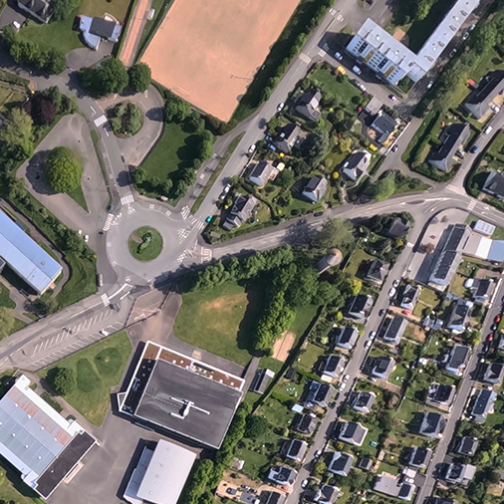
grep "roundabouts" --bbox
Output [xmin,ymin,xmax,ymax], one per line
[106,200,195,290]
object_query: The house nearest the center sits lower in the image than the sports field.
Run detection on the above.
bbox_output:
[226,196,257,232]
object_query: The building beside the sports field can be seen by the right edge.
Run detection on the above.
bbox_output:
[352,0,479,93]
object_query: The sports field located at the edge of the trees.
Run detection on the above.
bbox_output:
[136,0,298,119]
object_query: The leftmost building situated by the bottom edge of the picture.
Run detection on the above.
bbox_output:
[0,374,96,499]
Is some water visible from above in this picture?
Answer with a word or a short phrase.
No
